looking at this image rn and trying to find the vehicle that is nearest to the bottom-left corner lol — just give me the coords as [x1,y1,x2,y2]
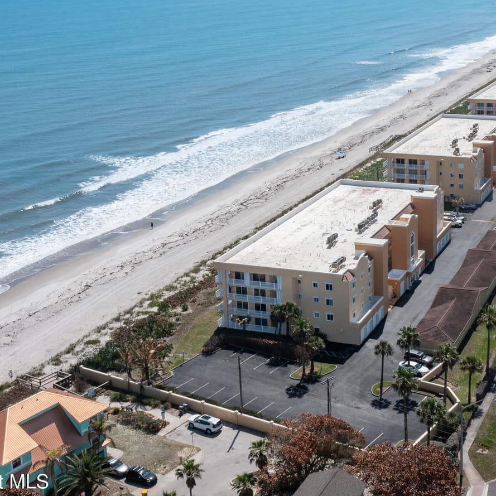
[105,447,128,475]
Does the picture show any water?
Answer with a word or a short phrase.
Yes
